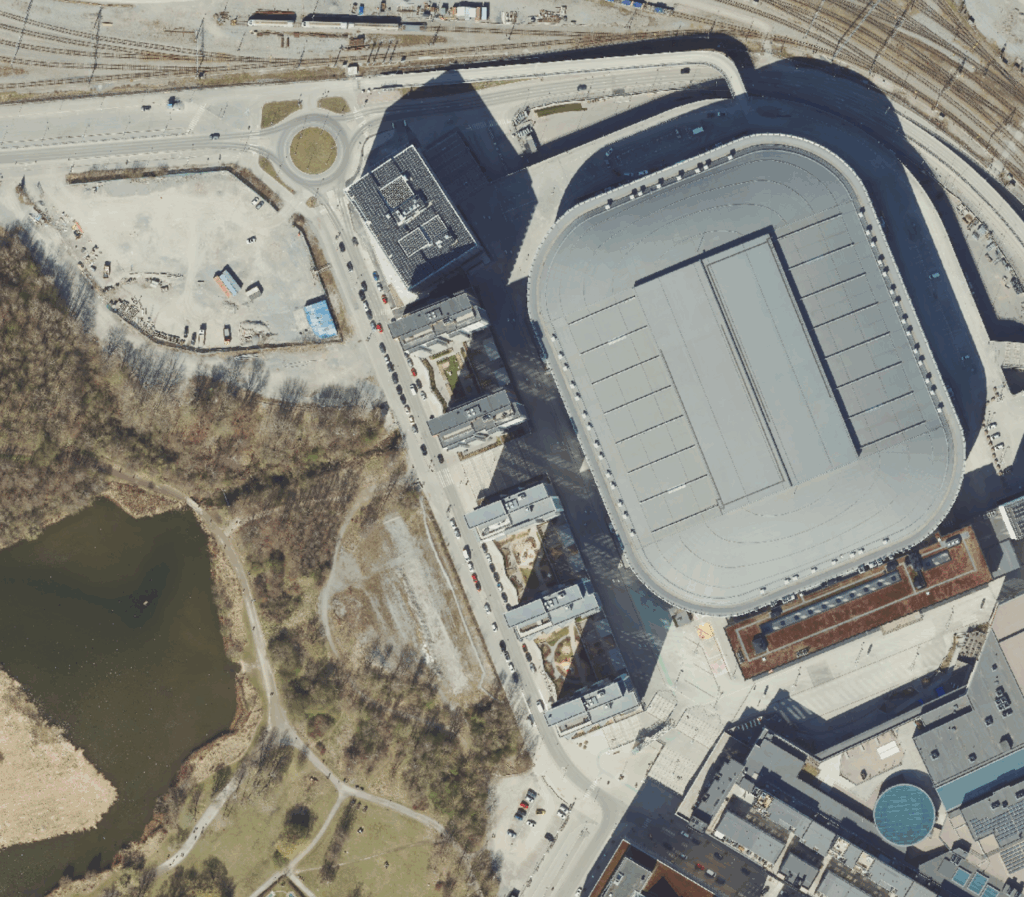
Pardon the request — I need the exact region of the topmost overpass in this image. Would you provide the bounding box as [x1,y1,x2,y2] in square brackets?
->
[351,49,747,99]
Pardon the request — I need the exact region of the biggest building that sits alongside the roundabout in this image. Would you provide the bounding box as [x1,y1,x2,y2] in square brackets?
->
[347,146,482,296]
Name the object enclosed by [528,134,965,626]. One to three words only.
stadium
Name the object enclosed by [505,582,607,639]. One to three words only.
building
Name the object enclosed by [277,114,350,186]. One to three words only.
roundabout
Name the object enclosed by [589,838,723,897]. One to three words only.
building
